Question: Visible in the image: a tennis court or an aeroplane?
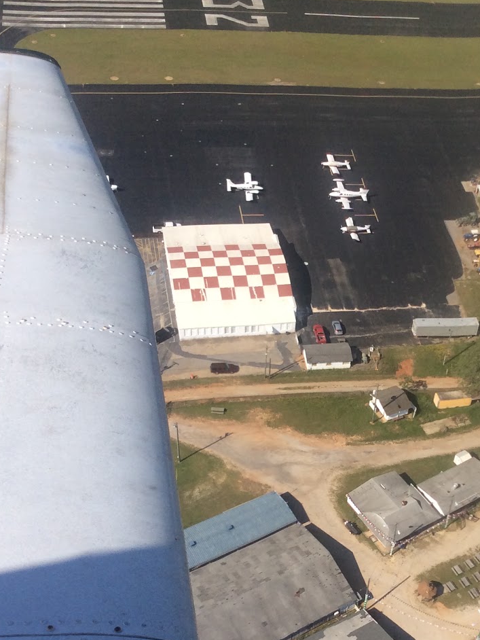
aeroplane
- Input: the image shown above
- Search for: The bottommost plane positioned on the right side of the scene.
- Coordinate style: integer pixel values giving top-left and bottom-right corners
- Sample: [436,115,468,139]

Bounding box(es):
[340,217,371,241]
